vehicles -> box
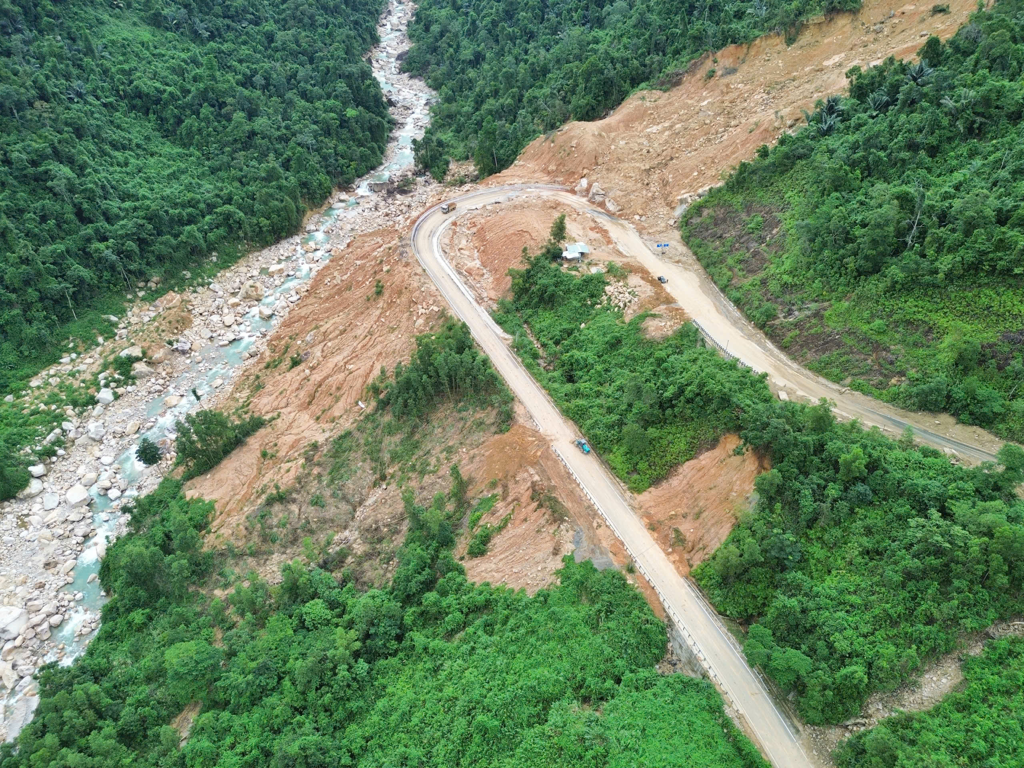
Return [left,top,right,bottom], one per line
[570,437,594,456]
[659,275,667,284]
[441,204,457,215]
